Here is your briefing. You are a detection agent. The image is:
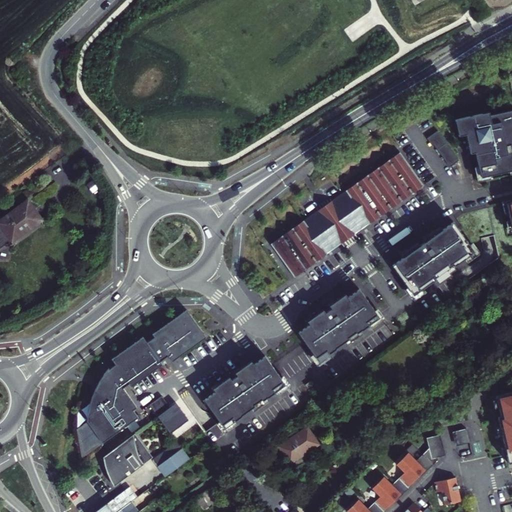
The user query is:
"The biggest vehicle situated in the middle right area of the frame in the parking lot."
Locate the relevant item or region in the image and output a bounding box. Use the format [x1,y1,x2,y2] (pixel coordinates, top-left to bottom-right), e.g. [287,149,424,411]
[388,228,412,246]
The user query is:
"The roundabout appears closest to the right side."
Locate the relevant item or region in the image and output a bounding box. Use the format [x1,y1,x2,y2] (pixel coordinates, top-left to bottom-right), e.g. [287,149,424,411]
[130,194,223,290]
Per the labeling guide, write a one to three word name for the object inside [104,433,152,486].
building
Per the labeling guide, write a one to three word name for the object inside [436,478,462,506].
house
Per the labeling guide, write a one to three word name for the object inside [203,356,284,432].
building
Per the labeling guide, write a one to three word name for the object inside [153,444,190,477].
shed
